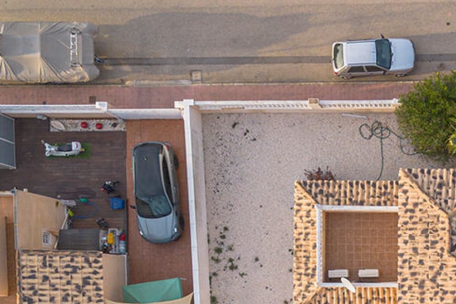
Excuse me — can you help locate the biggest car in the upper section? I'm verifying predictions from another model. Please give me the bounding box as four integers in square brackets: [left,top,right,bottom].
[333,33,417,80]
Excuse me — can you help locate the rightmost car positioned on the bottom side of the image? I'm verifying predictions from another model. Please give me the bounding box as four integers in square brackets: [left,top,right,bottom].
[131,142,185,243]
